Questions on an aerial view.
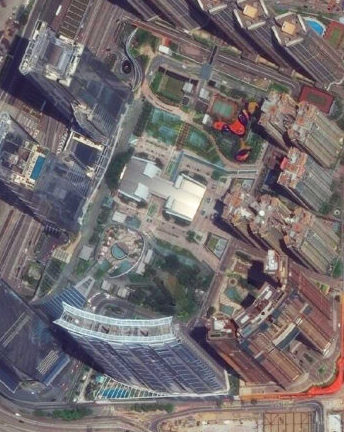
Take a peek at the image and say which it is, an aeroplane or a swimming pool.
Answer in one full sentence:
The image shows a swimming pool.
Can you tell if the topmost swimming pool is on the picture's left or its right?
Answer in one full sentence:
The topmost swimming pool sits on the right side.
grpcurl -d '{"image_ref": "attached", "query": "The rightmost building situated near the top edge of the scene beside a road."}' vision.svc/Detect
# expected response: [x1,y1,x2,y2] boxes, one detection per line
[272,12,342,87]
